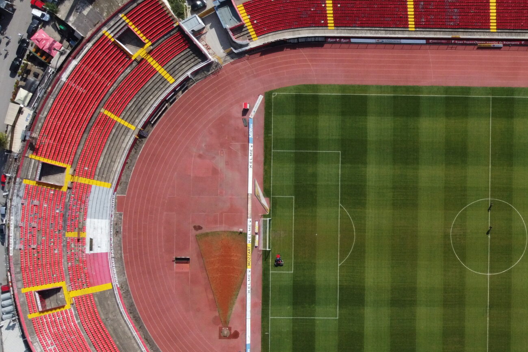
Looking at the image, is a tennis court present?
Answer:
No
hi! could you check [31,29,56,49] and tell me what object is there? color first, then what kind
pink umbrella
